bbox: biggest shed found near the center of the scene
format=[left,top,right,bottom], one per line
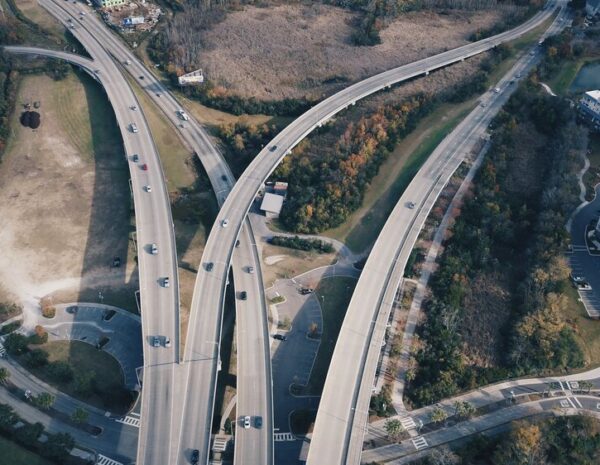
[259,193,285,217]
